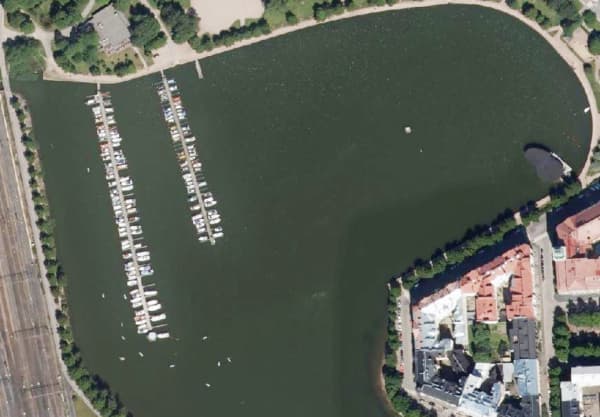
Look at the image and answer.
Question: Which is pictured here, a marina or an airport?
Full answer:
What you see here is a marina.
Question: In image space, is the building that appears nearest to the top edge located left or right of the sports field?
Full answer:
To the left of the sports field is where the building that appears nearest to the top edge appears.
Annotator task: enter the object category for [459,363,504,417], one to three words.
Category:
house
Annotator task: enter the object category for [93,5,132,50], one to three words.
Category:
building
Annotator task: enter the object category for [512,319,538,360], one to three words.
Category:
house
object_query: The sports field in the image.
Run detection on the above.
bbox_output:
[190,0,262,33]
